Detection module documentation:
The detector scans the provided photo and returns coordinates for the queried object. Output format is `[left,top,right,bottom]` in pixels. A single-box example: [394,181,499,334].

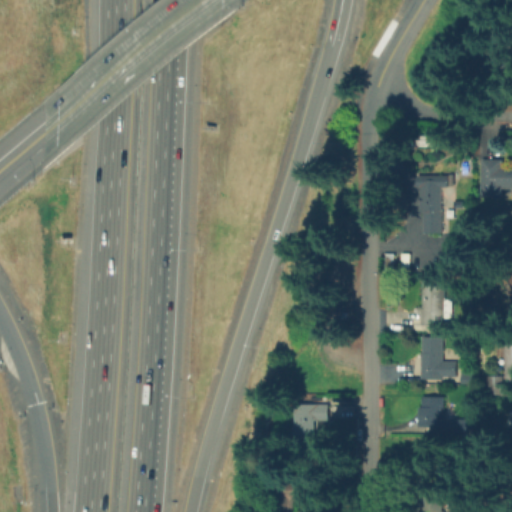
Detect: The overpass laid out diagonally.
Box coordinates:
[0,0,250,206]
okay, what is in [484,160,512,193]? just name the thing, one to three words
house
